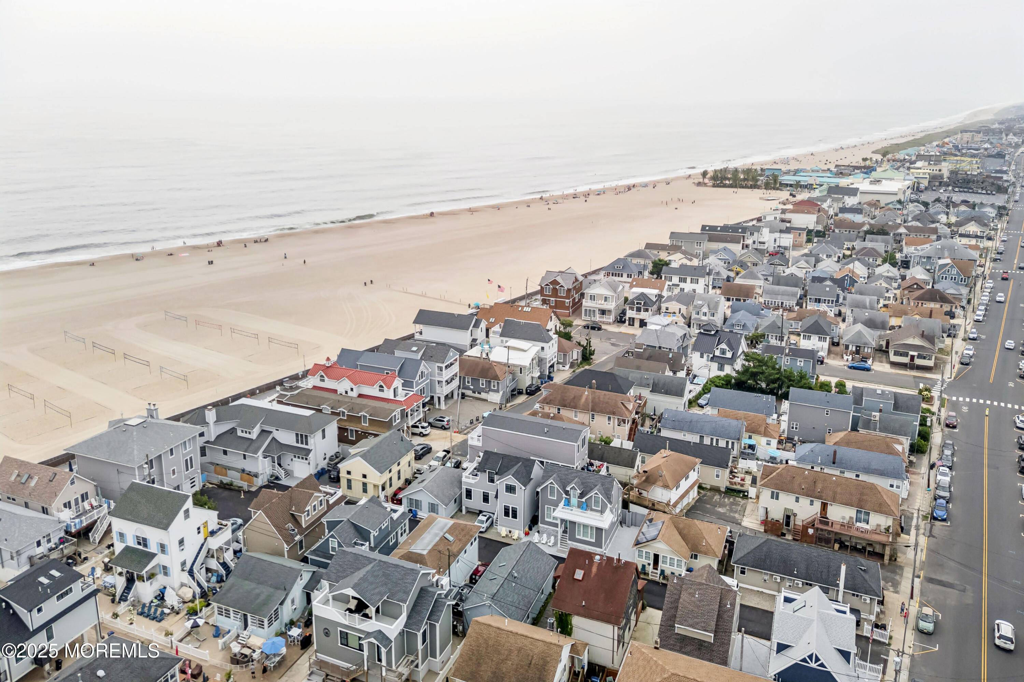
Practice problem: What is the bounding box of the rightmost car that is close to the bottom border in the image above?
[992,621,1018,656]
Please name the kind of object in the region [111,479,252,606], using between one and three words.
house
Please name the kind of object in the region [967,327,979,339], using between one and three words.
vehicle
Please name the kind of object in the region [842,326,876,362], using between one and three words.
house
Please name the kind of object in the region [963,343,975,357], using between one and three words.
vehicle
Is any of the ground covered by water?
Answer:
Yes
